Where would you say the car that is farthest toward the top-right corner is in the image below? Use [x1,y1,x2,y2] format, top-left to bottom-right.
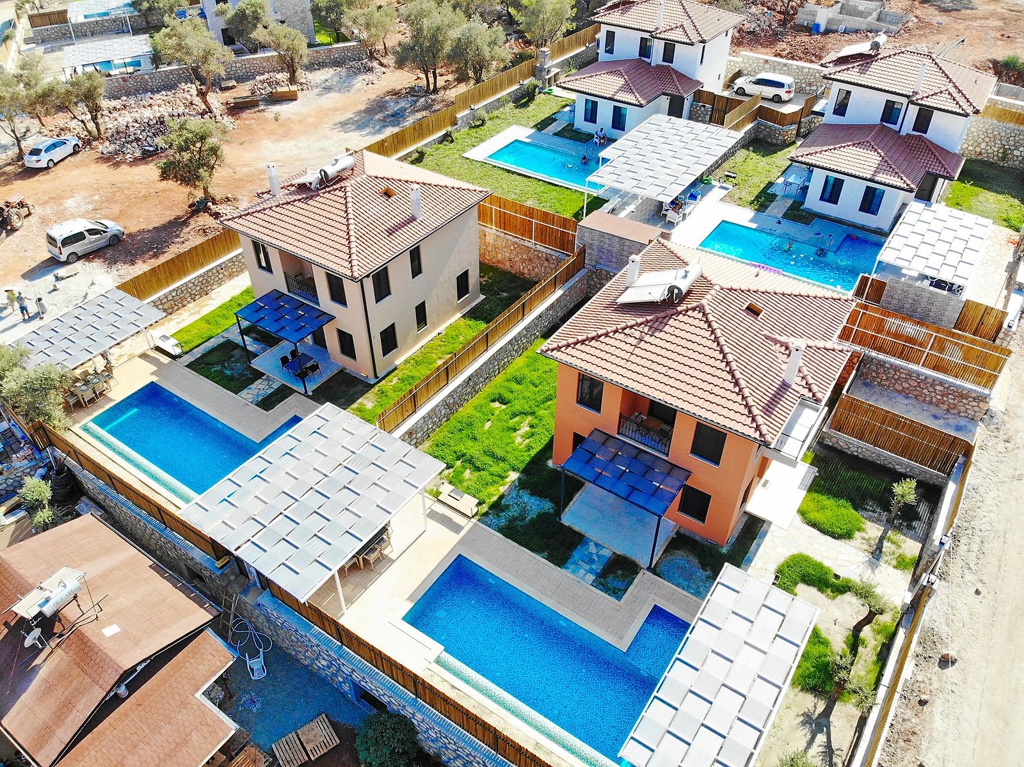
[730,70,796,103]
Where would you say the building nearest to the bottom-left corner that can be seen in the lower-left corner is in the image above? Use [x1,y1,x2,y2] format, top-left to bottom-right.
[0,513,243,767]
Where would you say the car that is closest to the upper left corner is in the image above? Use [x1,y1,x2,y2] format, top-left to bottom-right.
[16,132,86,168]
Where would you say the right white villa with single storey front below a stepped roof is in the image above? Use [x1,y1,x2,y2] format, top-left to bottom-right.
[781,47,1001,232]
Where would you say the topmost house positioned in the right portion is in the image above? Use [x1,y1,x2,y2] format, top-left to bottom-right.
[553,0,737,139]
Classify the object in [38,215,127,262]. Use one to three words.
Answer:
car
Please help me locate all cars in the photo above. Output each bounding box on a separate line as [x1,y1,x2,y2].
[38,215,127,262]
[730,70,796,103]
[16,132,86,168]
